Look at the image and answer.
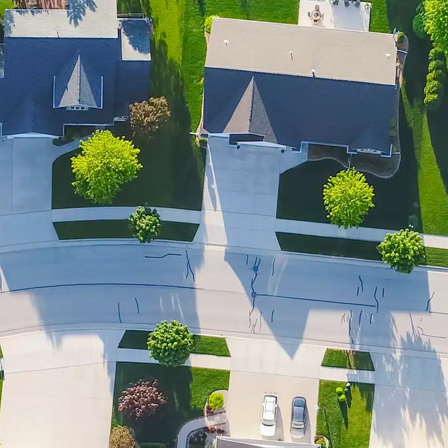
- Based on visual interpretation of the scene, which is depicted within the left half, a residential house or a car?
residential house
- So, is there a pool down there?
No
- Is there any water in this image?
No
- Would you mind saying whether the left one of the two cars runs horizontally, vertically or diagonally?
vertically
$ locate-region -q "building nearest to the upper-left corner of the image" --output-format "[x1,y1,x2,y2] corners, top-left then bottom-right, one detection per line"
[0,0,152,139]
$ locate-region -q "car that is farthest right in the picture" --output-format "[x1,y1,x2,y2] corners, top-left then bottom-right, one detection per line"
[289,397,309,439]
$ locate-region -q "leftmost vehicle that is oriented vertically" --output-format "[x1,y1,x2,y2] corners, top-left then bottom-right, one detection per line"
[259,394,280,438]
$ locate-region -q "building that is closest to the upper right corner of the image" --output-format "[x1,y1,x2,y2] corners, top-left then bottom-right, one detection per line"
[203,17,399,159]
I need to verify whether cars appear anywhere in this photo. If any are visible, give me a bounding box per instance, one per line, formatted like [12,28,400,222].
[289,397,309,439]
[259,394,280,438]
